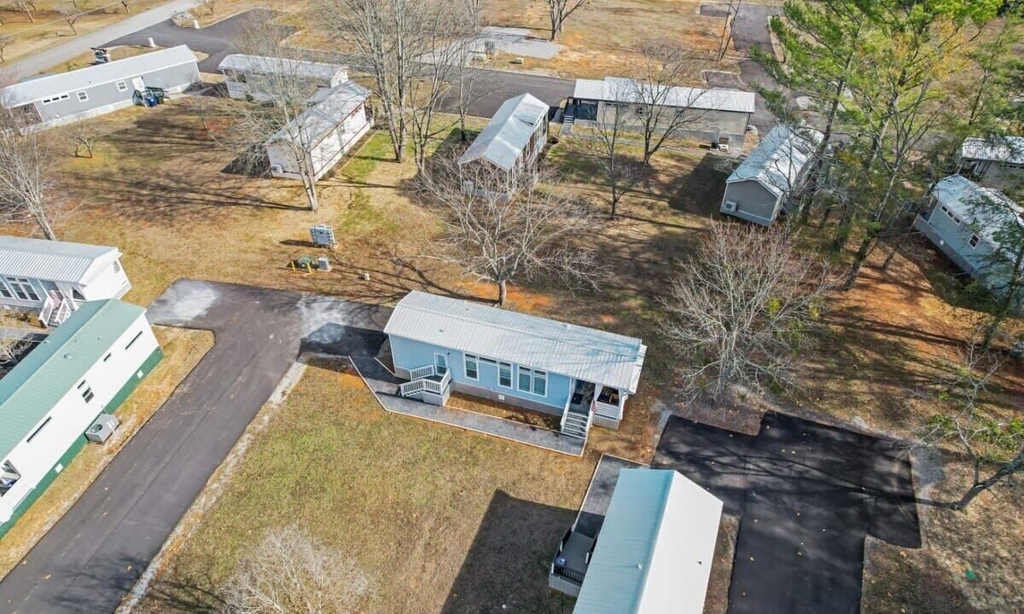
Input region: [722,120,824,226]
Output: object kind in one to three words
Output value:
house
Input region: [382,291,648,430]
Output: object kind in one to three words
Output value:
house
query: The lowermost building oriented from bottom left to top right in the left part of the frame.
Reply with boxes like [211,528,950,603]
[0,297,161,541]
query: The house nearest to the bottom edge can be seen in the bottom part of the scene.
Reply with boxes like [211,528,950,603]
[572,467,723,614]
